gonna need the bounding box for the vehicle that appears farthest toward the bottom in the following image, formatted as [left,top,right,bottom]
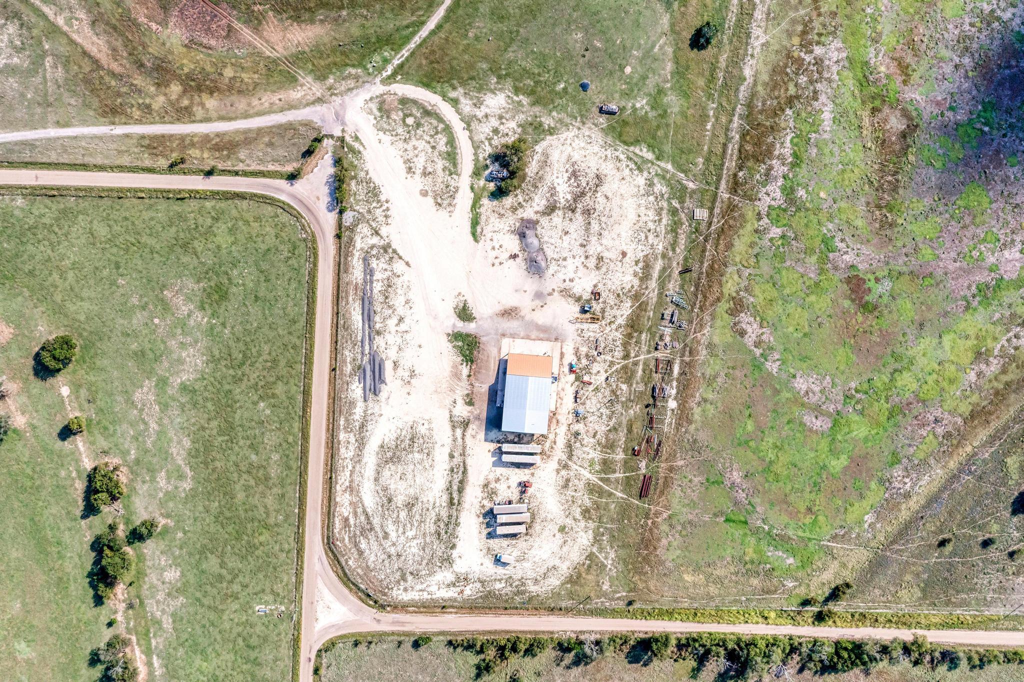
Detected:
[497,554,516,566]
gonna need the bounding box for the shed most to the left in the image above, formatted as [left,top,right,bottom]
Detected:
[501,353,552,434]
